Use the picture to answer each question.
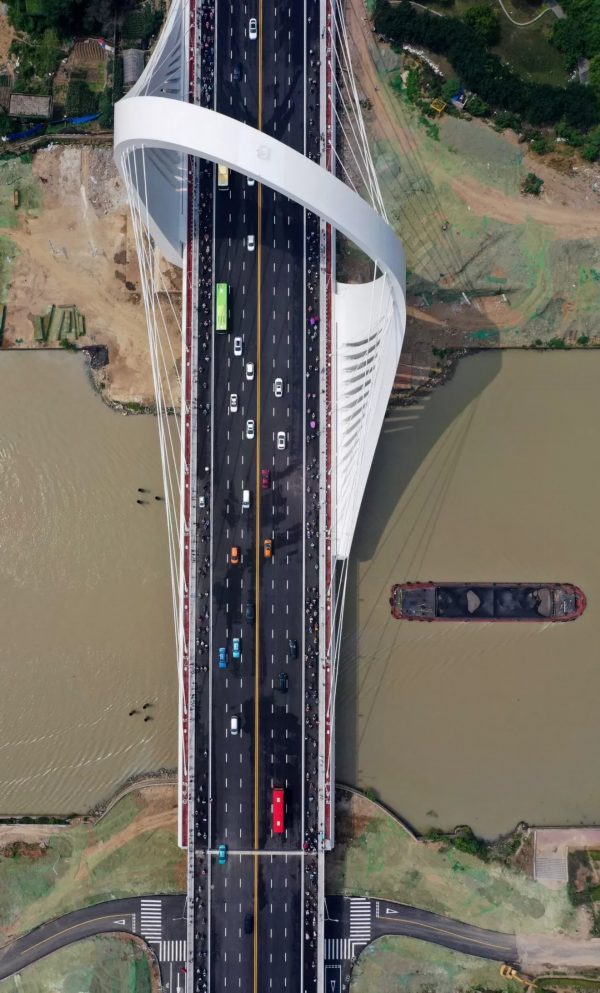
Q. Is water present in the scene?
Yes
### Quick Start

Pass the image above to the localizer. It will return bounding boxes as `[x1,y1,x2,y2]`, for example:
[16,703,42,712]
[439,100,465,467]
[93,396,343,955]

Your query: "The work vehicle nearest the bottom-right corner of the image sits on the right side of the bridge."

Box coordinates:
[499,960,541,989]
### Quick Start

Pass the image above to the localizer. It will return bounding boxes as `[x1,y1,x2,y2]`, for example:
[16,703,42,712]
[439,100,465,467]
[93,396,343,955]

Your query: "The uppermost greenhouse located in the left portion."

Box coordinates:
[124,48,143,83]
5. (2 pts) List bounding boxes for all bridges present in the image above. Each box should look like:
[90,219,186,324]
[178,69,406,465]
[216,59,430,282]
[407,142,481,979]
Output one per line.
[114,0,406,993]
